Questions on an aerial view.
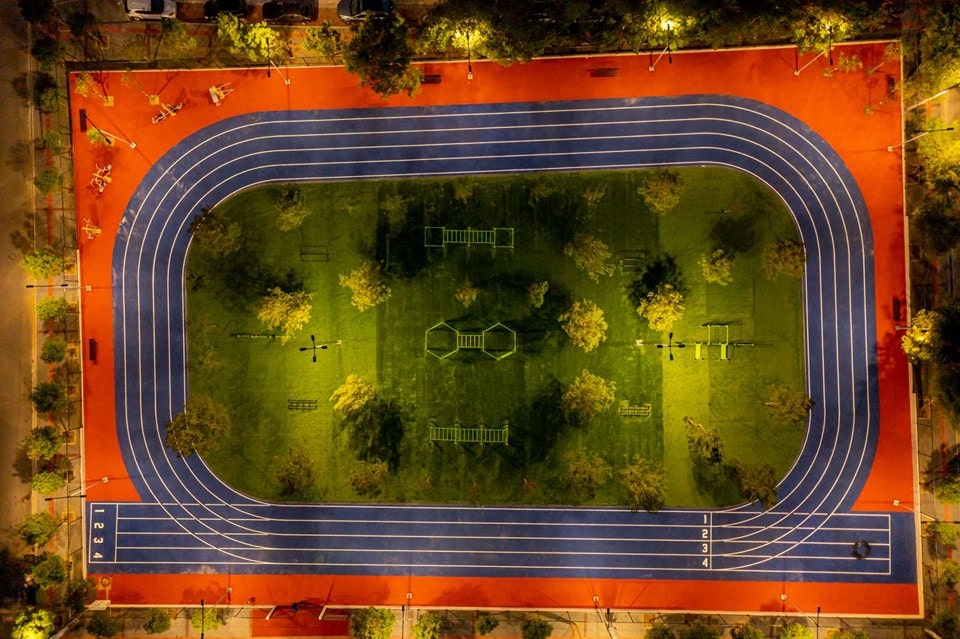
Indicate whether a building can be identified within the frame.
No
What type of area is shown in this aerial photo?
sports ground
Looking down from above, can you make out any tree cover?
Yes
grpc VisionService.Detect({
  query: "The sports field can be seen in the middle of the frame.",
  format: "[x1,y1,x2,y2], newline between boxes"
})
[188,166,806,508]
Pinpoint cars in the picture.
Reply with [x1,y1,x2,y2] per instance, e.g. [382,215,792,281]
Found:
[338,0,393,22]
[120,0,174,22]
[261,0,317,22]
[200,0,250,21]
